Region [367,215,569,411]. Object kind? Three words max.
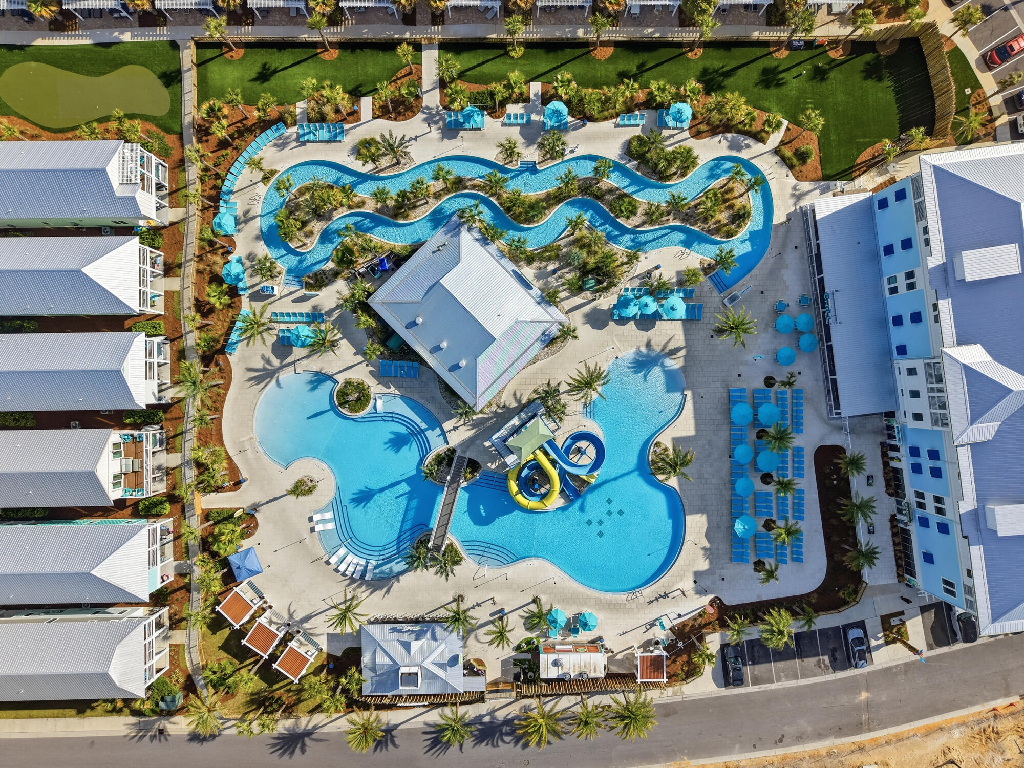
building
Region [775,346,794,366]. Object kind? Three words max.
umbrella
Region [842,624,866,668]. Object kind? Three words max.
car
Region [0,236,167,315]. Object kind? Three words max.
house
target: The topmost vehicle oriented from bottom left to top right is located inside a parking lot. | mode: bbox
[988,32,1024,66]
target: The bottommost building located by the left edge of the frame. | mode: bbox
[0,608,172,699]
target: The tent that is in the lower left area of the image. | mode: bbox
[228,542,271,582]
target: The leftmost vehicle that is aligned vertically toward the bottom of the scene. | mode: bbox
[721,642,742,686]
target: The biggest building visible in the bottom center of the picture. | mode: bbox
[360,616,486,696]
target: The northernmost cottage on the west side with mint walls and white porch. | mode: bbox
[0,141,171,226]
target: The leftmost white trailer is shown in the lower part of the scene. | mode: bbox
[539,645,604,680]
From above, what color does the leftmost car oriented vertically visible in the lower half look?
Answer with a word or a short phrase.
black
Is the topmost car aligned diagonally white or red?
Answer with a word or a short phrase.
red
